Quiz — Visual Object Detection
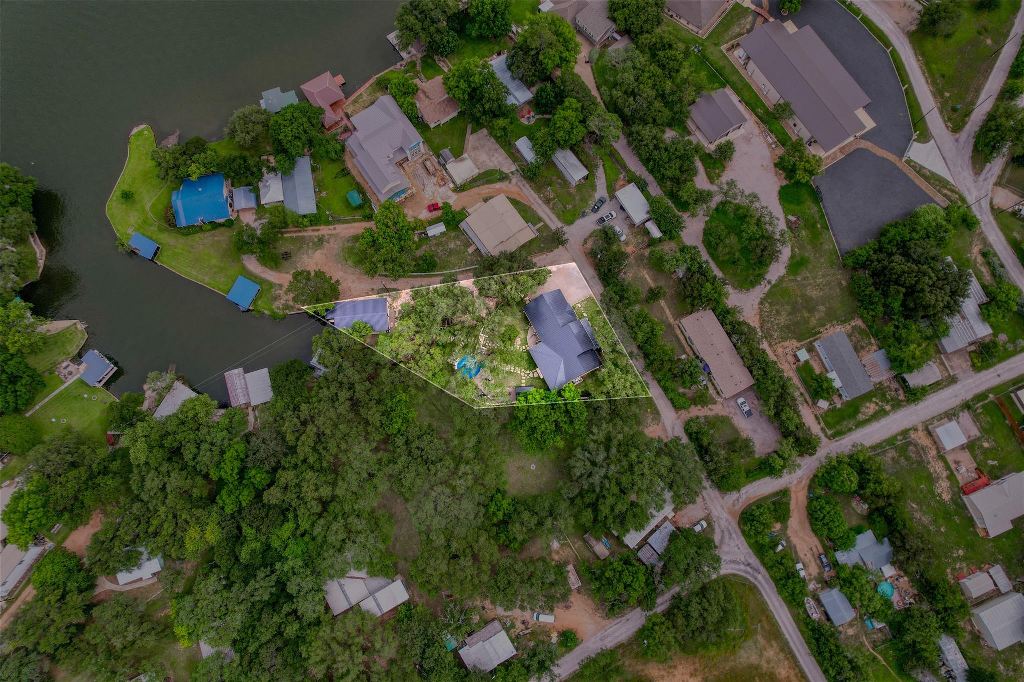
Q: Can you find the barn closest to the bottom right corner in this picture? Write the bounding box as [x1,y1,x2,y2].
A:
[966,590,1024,650]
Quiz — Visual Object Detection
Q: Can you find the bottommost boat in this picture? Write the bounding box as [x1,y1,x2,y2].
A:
[807,595,825,624]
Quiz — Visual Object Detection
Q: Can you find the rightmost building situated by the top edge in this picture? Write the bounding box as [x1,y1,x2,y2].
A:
[736,20,872,159]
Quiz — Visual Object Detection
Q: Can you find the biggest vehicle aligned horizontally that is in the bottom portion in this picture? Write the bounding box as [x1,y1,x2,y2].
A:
[532,612,557,624]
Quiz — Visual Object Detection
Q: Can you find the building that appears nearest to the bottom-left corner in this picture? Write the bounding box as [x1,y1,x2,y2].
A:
[0,541,51,597]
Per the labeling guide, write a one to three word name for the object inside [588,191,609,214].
truck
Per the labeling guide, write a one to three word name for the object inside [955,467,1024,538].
house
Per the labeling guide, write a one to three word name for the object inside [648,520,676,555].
shed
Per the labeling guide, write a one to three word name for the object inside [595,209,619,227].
vehicle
